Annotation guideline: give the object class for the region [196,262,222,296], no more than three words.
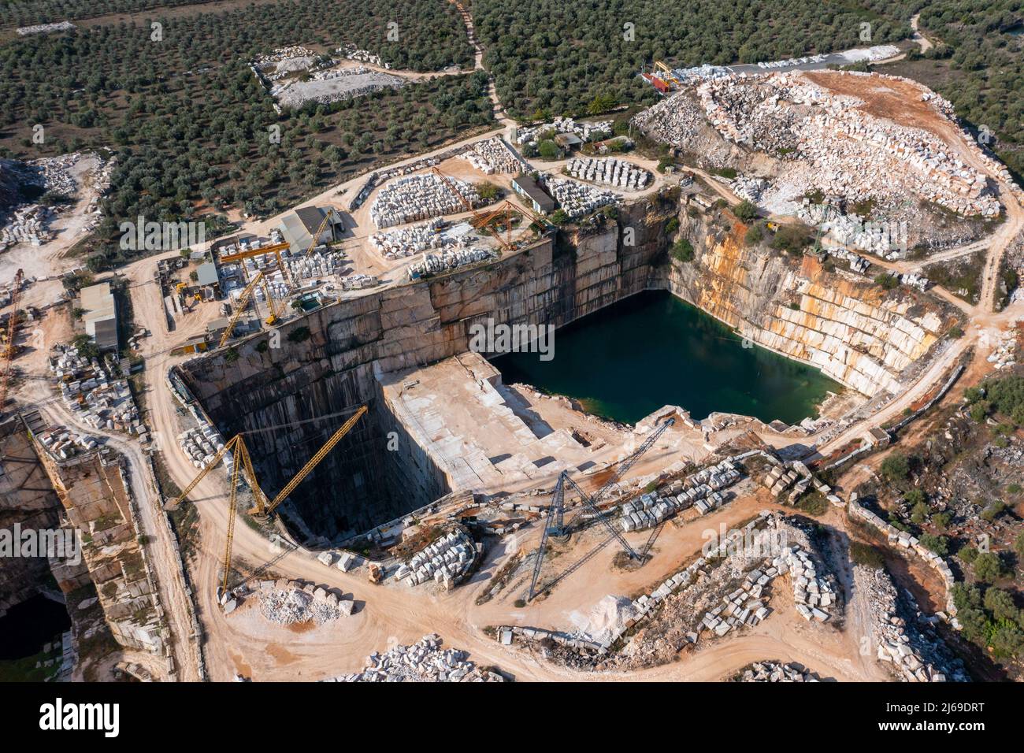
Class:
shed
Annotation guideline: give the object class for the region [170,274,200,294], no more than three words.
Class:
work vehicle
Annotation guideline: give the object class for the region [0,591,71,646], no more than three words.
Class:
pond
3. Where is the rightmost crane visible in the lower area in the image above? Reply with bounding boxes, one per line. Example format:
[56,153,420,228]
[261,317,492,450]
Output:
[520,417,672,612]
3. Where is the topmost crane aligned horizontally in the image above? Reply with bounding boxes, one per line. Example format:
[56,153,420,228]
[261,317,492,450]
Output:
[759,199,914,256]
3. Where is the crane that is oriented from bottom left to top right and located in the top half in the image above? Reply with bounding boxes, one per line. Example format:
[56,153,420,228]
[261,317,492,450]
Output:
[212,208,332,354]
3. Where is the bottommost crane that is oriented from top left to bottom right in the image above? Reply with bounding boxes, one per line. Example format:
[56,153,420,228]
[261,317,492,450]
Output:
[432,165,552,256]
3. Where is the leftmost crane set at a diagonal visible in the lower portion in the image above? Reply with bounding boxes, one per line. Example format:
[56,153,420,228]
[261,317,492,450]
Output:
[162,404,370,605]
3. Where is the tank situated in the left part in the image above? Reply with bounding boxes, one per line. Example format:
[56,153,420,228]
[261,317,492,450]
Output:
[288,291,328,316]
